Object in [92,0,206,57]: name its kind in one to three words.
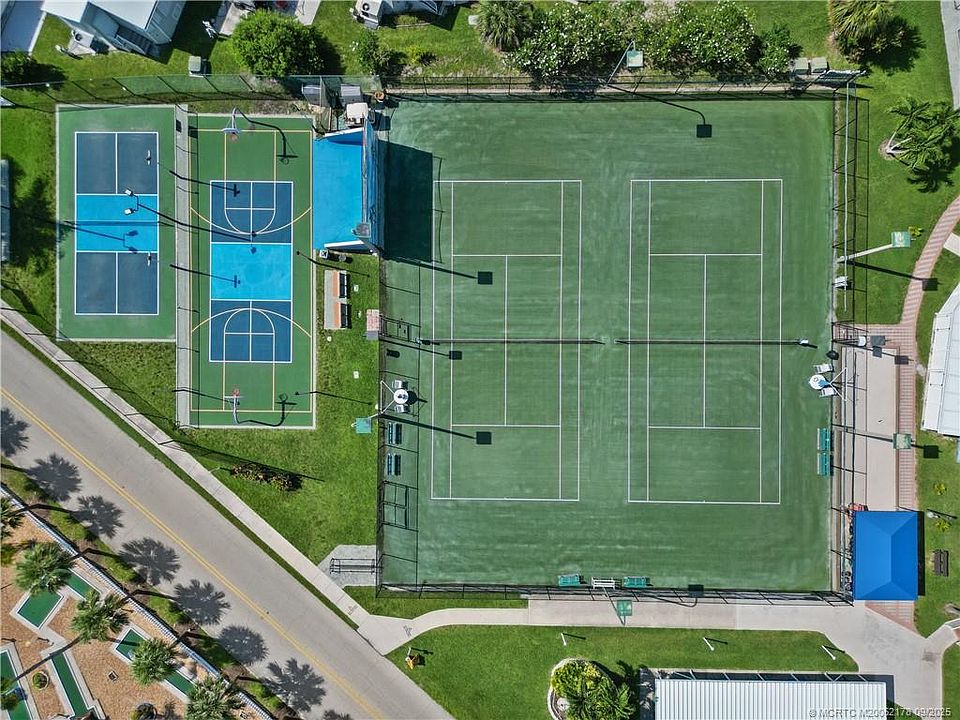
house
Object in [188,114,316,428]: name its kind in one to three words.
basketball court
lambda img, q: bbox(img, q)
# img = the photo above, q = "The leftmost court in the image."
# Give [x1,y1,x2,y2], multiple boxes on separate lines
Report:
[56,104,176,342]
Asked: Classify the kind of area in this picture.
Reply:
sports ground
